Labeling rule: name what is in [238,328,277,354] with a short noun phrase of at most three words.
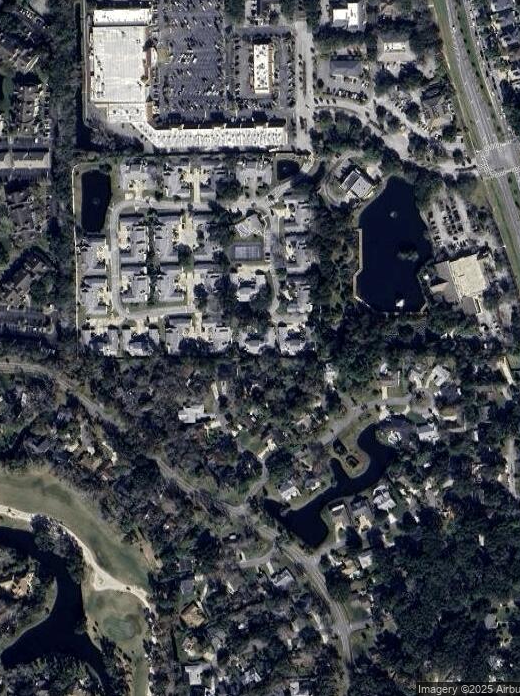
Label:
house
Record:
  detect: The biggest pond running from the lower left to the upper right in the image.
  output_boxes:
[264,423,399,548]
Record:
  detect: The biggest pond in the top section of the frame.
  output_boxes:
[79,169,112,232]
